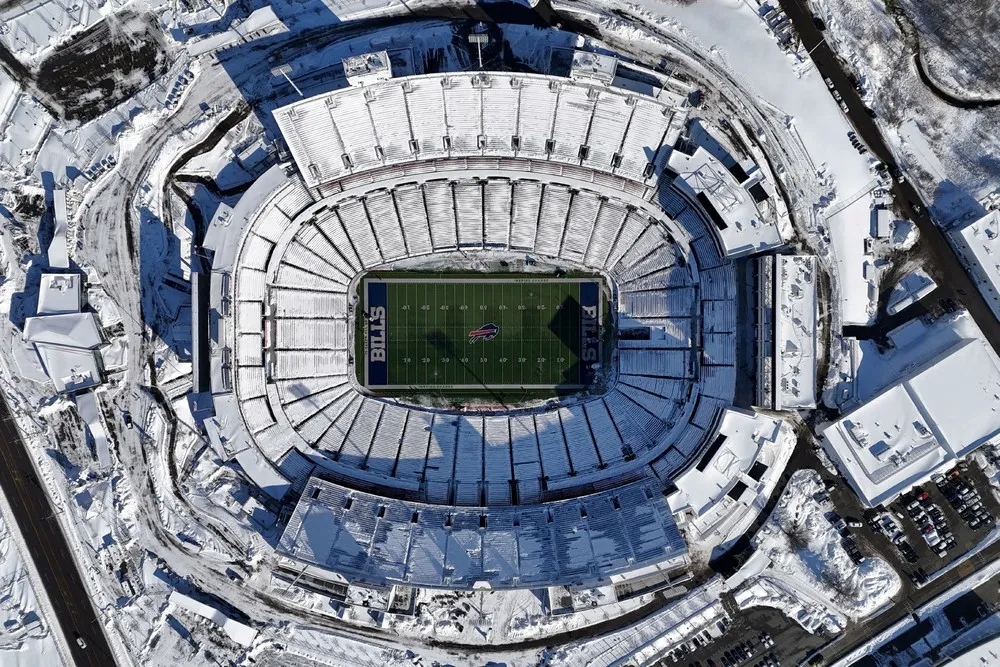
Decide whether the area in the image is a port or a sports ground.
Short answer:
sports ground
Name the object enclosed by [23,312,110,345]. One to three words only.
building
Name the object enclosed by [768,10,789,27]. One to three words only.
vehicle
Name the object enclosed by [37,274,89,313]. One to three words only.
building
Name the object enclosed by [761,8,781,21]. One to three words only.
vehicle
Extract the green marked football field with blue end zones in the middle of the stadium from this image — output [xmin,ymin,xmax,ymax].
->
[364,278,604,389]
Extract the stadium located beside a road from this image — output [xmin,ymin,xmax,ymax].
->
[203,72,740,590]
